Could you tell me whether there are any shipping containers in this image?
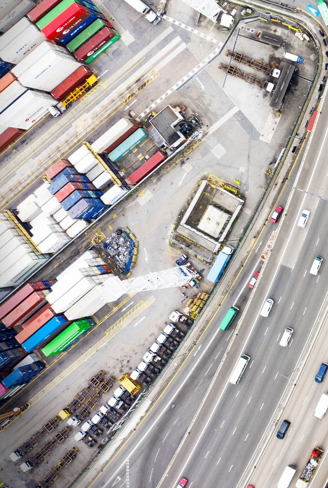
Yes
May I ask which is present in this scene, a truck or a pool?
truck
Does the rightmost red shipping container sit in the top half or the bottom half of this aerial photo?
top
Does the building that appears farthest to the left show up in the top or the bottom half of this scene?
top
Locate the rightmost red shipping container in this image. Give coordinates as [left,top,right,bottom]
[128,151,169,186]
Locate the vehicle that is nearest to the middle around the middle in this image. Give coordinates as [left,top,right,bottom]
[175,251,190,269]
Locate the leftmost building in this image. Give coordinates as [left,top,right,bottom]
[146,105,202,149]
